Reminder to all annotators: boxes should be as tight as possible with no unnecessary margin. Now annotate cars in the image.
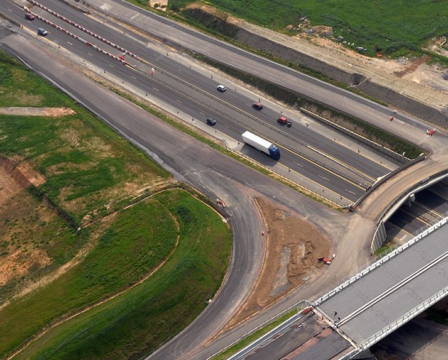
[24,12,33,19]
[206,116,216,124]
[253,102,264,109]
[216,84,227,92]
[38,27,47,34]
[277,116,287,124]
